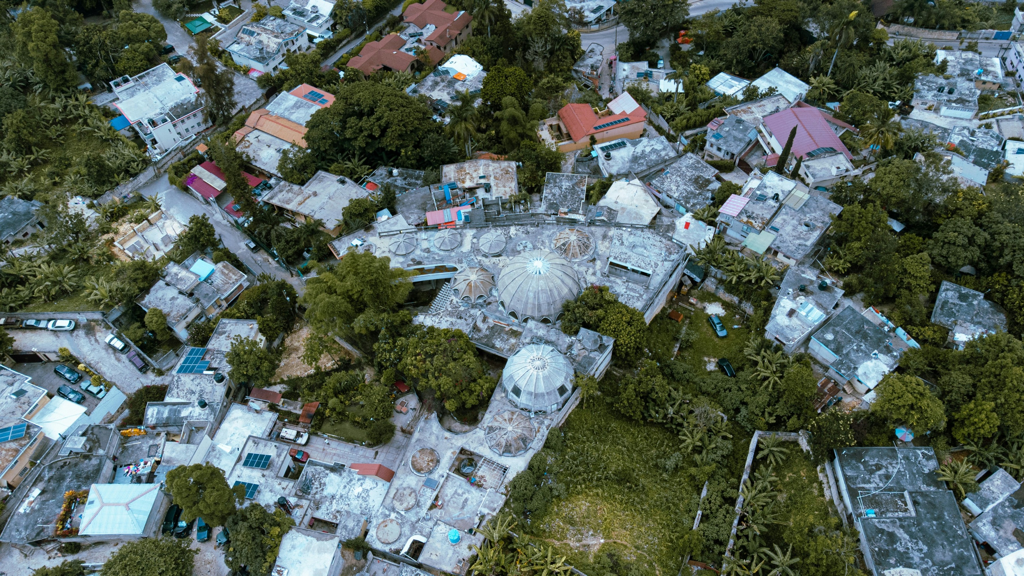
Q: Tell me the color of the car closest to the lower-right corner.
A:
black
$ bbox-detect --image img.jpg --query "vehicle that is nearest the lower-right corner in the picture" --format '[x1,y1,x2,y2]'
[715,354,740,379]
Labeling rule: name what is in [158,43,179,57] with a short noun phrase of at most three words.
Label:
car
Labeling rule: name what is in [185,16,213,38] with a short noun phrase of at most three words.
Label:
building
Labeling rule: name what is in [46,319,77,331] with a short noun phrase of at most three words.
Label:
vehicle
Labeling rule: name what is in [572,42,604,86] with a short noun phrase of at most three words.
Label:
house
